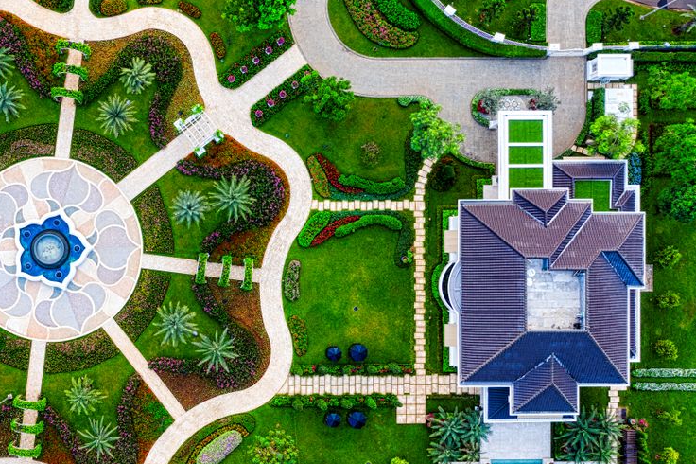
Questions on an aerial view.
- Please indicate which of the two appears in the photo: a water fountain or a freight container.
water fountain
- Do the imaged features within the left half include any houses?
No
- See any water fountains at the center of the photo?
No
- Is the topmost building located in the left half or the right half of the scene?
right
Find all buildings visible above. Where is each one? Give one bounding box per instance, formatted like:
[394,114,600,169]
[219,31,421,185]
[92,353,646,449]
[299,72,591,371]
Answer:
[432,111,653,423]
[587,53,633,88]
